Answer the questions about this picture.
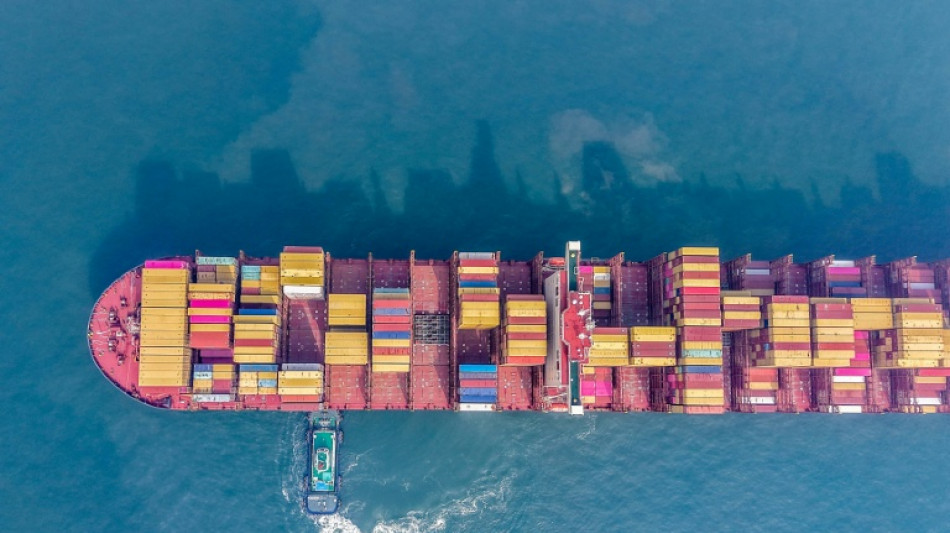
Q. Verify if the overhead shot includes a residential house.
No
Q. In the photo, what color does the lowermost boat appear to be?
blue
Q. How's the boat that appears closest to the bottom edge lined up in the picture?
up and down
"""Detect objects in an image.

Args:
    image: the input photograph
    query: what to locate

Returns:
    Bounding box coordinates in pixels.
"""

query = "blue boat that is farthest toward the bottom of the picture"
[303,411,344,515]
